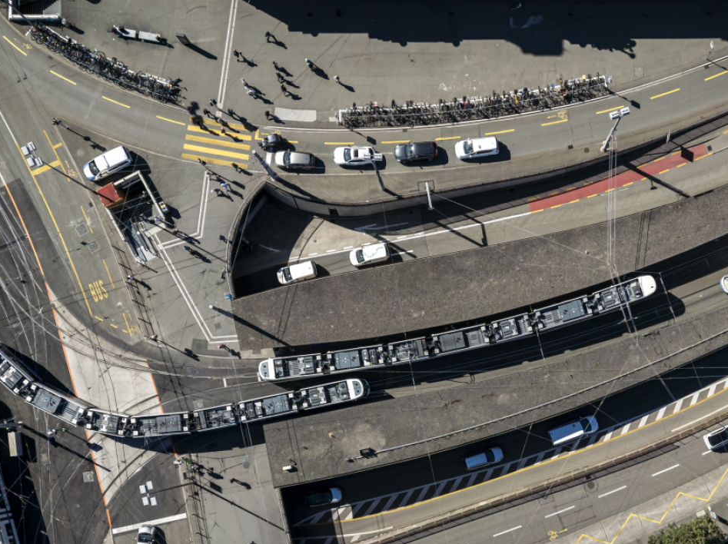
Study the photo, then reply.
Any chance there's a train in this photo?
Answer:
Yes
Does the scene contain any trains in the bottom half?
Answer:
Yes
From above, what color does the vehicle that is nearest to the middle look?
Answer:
white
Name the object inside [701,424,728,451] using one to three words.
car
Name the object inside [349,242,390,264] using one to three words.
vehicle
